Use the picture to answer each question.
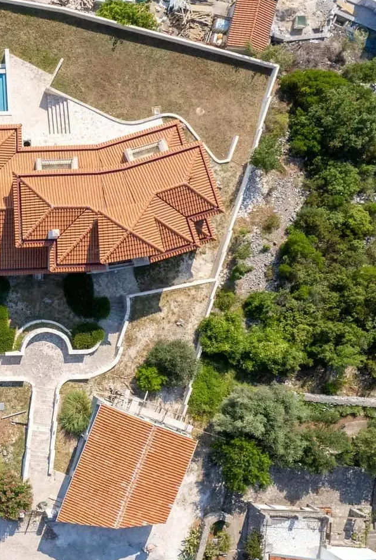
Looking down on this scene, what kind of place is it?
residential area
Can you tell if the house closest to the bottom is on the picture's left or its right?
right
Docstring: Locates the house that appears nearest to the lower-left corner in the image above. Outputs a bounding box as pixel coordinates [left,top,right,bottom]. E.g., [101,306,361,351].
[55,392,198,530]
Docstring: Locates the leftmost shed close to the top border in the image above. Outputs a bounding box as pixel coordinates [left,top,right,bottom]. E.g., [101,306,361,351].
[222,0,277,55]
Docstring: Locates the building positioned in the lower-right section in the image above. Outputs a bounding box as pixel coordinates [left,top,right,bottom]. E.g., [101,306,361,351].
[240,496,376,560]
